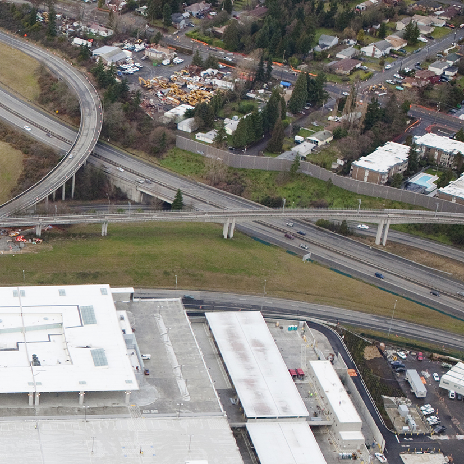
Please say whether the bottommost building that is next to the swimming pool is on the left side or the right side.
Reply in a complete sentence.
You can find the bottommost building that is next to the swimming pool on the right side of the picture.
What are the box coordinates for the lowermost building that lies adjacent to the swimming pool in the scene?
[437,178,464,206]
